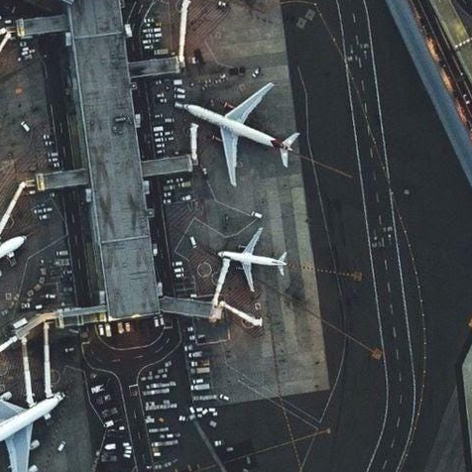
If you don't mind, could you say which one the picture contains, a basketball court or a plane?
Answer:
plane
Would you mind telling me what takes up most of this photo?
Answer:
paved ground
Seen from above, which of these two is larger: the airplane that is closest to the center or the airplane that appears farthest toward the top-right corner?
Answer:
the airplane that appears farthest toward the top-right corner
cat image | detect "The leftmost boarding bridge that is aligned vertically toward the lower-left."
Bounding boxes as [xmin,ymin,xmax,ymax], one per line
[19,334,33,408]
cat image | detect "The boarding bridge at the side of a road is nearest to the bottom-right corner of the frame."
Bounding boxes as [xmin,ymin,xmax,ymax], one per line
[213,298,266,327]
